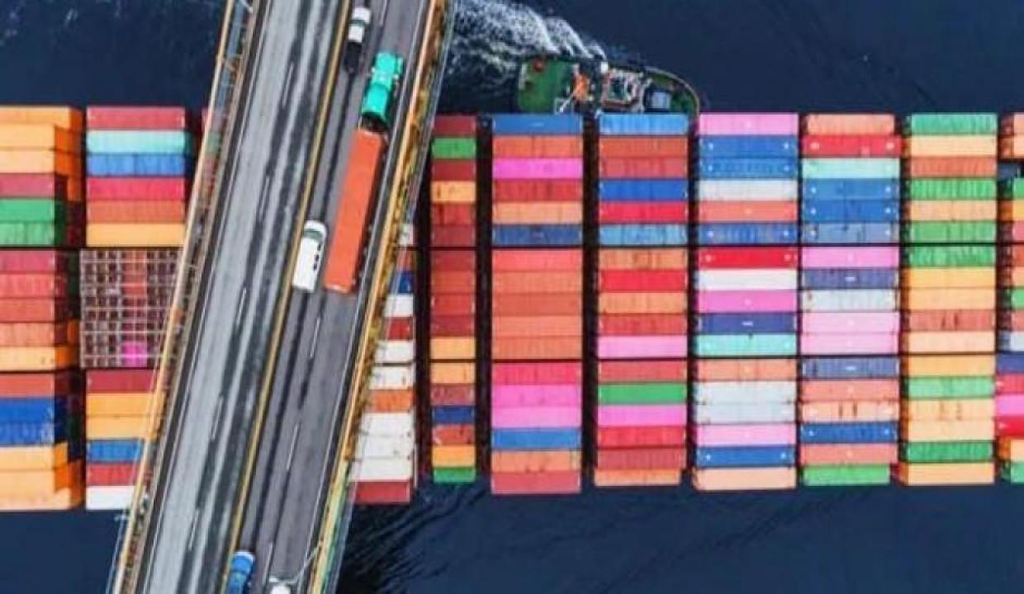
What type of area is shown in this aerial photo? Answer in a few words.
port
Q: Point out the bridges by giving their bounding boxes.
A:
[105,0,463,594]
